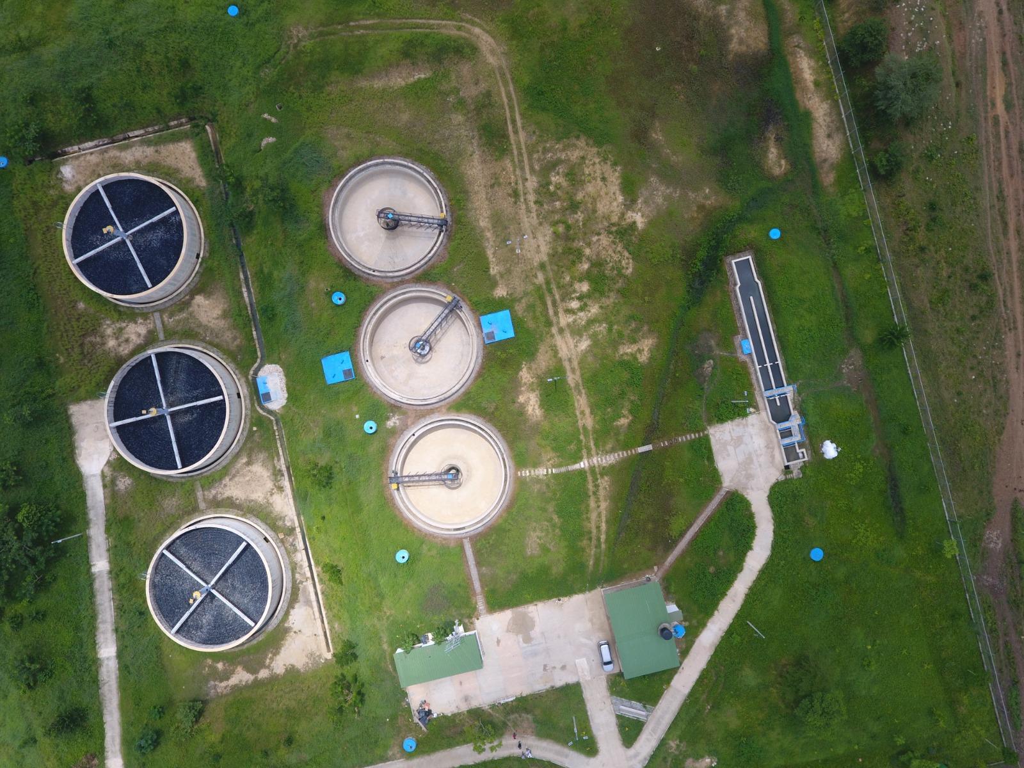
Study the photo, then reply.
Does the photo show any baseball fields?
No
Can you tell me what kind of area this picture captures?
industrial area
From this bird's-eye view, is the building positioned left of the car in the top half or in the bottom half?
bottom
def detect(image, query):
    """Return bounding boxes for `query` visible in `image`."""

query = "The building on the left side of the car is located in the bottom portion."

[393,627,483,688]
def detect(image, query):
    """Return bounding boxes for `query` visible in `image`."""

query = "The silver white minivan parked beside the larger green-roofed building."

[597,638,616,673]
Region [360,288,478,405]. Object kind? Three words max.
storage tank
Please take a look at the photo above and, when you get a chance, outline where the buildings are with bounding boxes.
[605,581,680,680]
[393,627,483,688]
